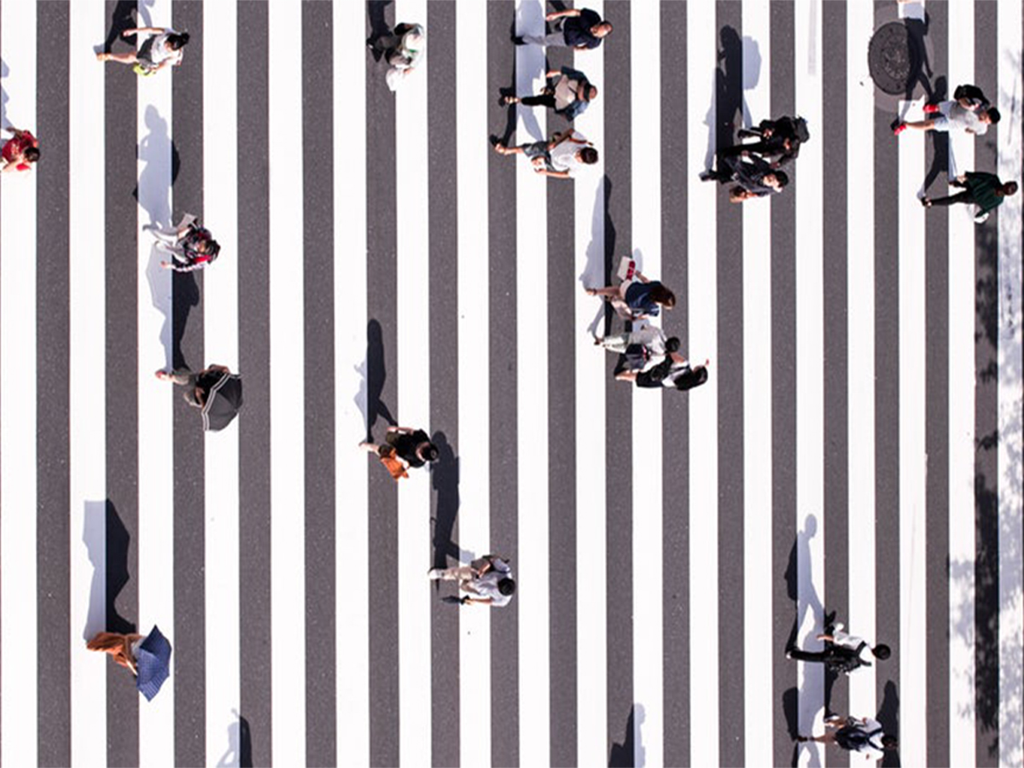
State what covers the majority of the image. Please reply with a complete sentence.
Most of the picture is covered by paved ground.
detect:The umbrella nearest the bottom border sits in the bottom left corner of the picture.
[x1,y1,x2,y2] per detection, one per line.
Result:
[109,625,176,701]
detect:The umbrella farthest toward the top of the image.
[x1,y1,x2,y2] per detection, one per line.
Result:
[206,369,247,436]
